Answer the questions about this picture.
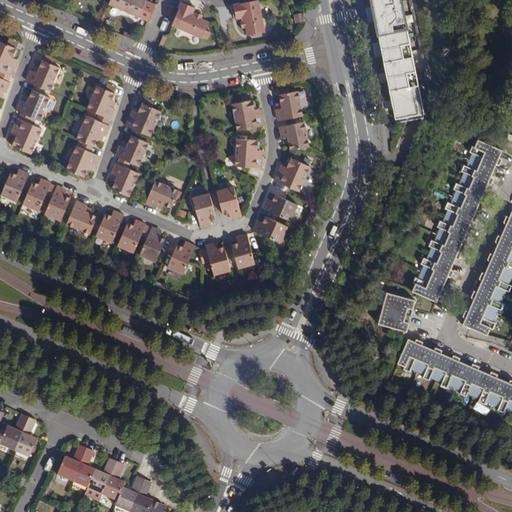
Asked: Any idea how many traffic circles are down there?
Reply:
1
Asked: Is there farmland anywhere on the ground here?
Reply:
No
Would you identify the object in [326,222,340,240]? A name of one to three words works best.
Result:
vehicle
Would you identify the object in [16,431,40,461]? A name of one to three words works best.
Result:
house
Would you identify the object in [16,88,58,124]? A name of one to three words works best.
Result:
house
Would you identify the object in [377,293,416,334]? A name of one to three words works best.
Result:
building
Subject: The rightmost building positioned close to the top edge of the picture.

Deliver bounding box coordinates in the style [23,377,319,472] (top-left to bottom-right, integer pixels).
[368,0,426,124]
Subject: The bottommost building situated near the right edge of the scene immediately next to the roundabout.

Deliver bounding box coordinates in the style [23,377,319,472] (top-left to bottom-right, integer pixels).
[397,340,512,414]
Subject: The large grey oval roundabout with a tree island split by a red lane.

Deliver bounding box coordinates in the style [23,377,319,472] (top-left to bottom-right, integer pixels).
[182,322,346,486]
